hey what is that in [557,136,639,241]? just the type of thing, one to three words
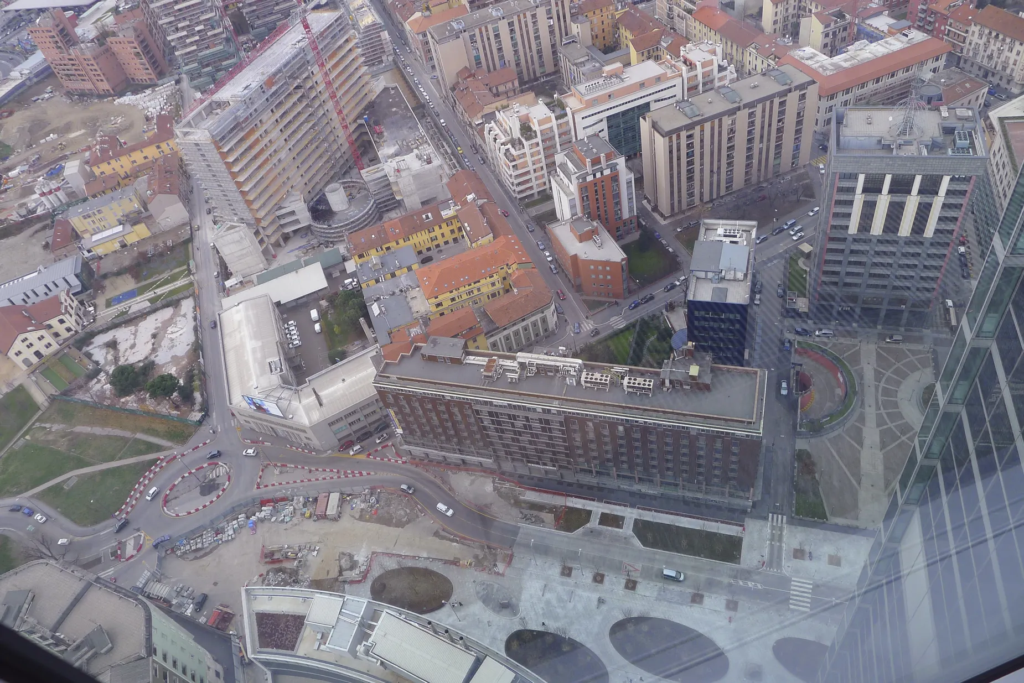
building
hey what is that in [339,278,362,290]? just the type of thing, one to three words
vehicle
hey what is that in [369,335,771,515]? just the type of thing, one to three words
building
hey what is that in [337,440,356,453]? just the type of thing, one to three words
vehicle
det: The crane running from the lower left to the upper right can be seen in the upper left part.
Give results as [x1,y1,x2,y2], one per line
[173,0,323,122]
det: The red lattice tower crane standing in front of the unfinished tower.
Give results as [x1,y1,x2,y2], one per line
[297,0,368,171]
